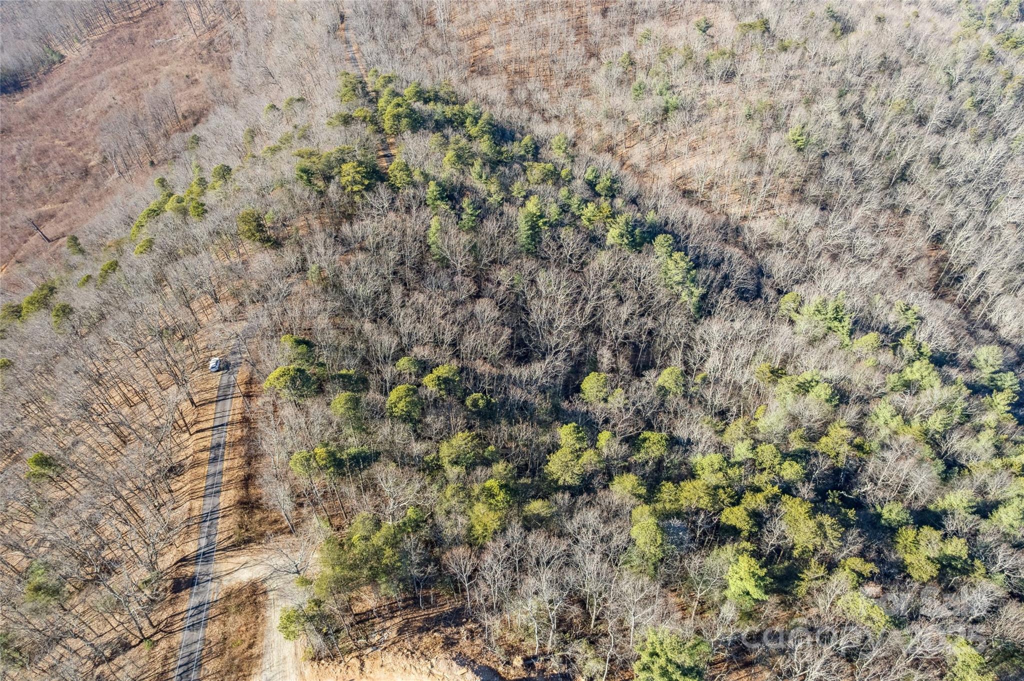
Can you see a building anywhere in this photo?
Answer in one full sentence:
No, I can't see a single building in this photo.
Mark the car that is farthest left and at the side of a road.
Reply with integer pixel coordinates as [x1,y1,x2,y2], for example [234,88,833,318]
[208,360,220,378]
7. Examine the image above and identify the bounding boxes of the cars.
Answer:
[208,360,220,378]
[385,150,392,160]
